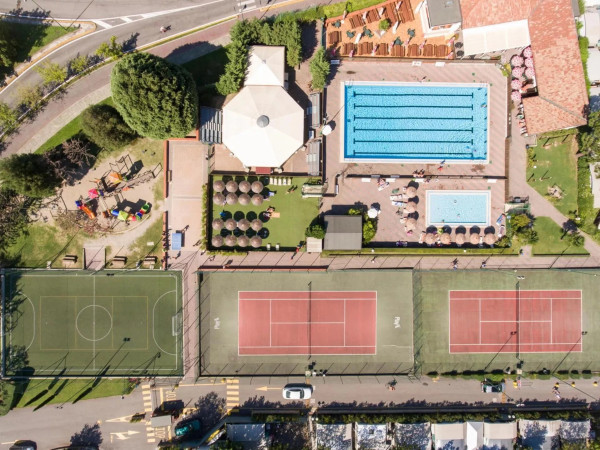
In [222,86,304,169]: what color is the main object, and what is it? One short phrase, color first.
white tent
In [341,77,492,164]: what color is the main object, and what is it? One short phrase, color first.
blue swimming pool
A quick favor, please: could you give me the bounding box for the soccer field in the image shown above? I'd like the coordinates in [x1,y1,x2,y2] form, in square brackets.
[2,270,182,377]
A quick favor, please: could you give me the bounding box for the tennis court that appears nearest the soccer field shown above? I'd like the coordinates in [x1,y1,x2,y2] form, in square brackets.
[201,271,414,376]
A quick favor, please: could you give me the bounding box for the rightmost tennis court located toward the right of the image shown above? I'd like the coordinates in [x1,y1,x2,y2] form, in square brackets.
[414,270,600,374]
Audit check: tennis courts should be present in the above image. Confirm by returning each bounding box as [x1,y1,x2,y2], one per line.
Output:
[201,271,414,376]
[414,270,600,374]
